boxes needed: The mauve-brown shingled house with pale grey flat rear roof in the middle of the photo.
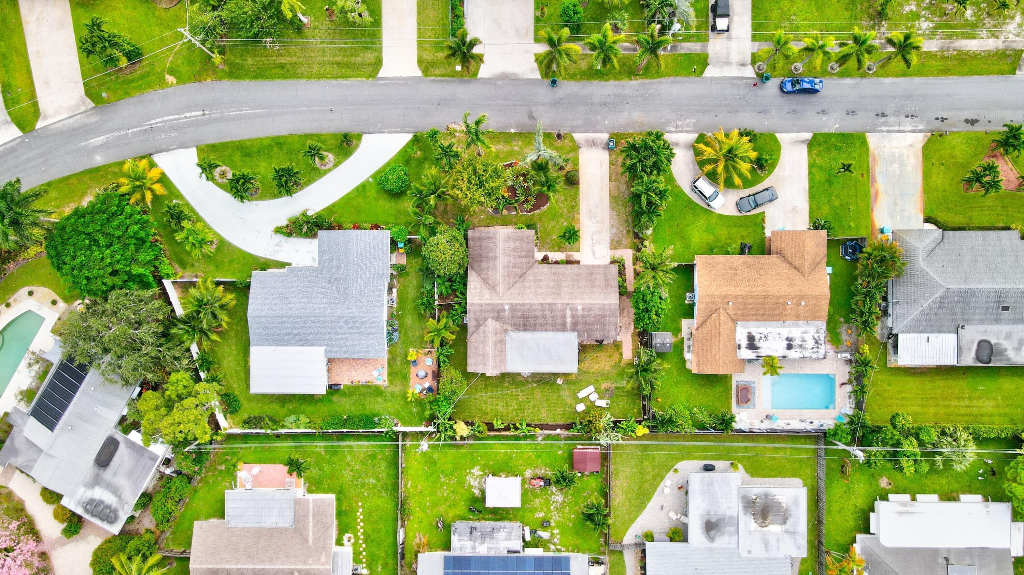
[466,228,620,374]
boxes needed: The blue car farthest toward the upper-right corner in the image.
[780,73,824,94]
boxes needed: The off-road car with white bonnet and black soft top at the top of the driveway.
[711,0,734,34]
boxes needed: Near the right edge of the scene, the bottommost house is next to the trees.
[853,494,1024,575]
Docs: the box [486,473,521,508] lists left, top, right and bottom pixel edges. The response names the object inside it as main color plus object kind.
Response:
white tent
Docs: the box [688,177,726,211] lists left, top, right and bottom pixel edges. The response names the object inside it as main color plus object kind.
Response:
white car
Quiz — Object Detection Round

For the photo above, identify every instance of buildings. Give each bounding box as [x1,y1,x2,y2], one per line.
[650,332,673,352]
[884,229,1024,366]
[645,472,807,575]
[0,341,166,536]
[417,521,589,575]
[246,229,391,394]
[466,228,620,374]
[188,490,353,575]
[573,443,601,472]
[691,229,833,375]
[853,494,1024,575]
